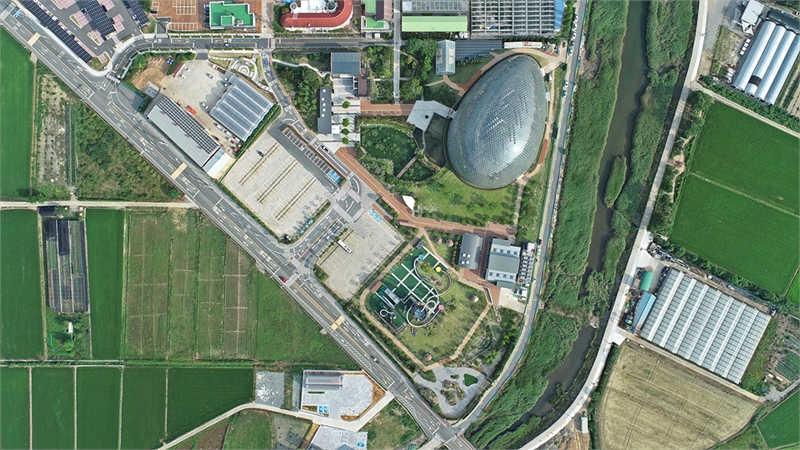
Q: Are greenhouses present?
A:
Yes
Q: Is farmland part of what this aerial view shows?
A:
Yes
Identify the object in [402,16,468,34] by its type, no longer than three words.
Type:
shed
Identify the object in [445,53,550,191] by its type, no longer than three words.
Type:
greenhouse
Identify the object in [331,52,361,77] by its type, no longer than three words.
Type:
building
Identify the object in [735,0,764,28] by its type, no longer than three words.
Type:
building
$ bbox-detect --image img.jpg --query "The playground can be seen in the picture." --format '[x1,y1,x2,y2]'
[369,246,451,334]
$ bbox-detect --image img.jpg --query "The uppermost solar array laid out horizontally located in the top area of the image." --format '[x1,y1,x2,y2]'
[455,39,502,61]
